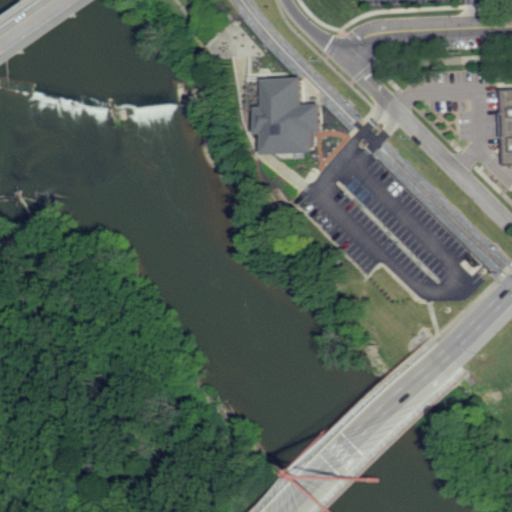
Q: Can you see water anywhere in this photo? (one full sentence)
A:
Yes, there is water in the image.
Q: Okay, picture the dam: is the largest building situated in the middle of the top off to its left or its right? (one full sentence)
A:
The largest building situated in the middle of the top can be seen on the right of the dam.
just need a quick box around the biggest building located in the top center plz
[251,76,317,153]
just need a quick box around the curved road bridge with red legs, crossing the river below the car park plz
[249,292,512,512]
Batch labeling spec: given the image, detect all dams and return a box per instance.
[0,78,189,134]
